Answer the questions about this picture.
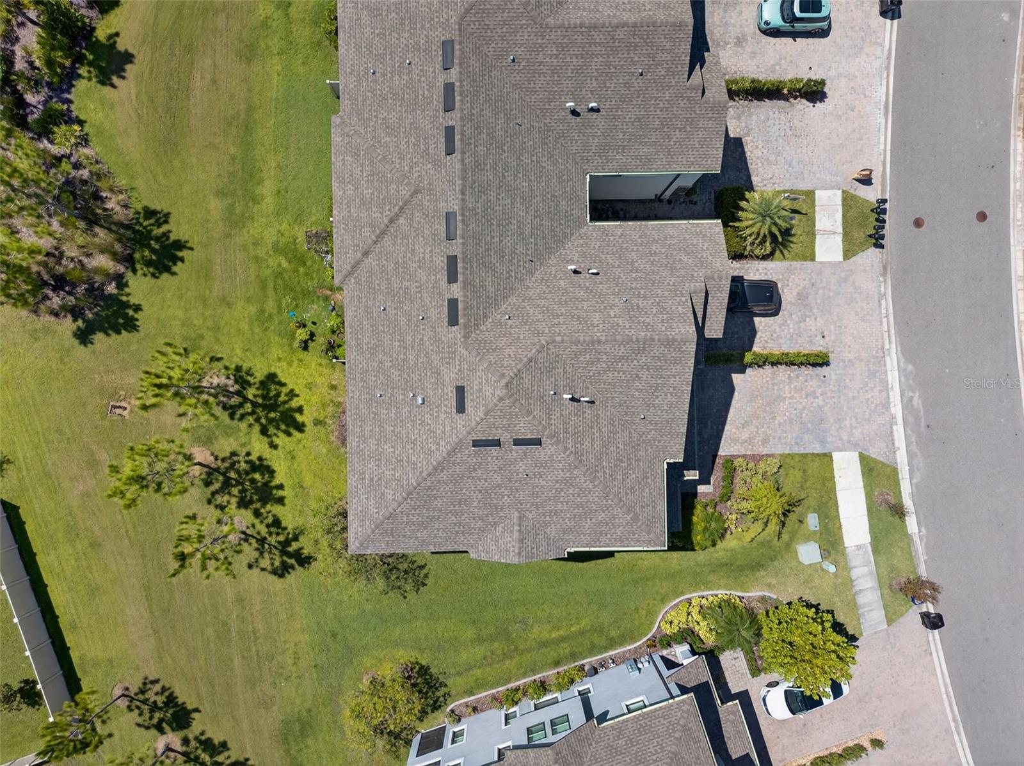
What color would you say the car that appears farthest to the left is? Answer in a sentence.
The color of the car that appears farthest to the left is black.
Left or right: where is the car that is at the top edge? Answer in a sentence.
The car that is at the top edge appears in the right half of the scene.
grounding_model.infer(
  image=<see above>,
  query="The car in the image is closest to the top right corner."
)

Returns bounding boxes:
[756,0,833,35]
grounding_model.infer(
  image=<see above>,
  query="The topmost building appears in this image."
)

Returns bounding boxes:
[331,0,728,565]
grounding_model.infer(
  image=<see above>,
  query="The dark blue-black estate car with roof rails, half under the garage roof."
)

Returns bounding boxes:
[723,278,782,319]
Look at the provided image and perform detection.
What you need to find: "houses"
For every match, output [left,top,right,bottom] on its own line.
[410,639,762,766]
[331,0,728,565]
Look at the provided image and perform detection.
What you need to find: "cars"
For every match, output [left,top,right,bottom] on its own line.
[758,665,853,717]
[723,278,782,319]
[756,0,833,35]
